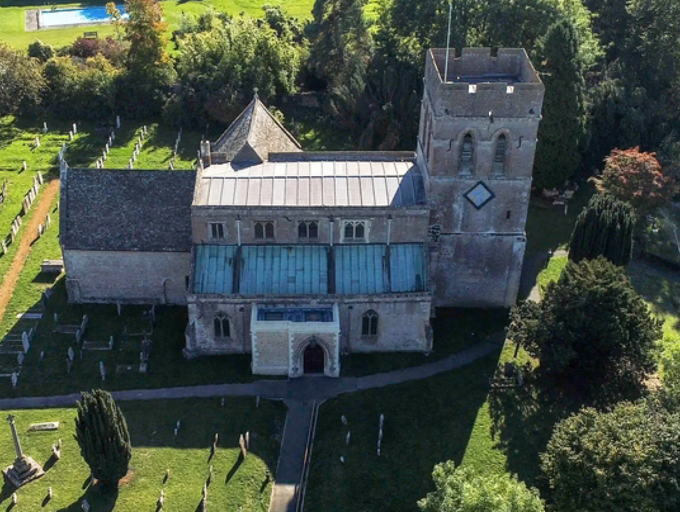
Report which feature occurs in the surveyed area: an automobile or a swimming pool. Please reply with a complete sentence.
Looking from above, you can make out a swimming pool.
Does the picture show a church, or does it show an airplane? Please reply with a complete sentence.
Looking from above, you can make out a church.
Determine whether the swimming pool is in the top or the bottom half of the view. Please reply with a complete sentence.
The top half of the photo is where the swimming pool is.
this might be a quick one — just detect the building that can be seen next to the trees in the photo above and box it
[56,2,548,378]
